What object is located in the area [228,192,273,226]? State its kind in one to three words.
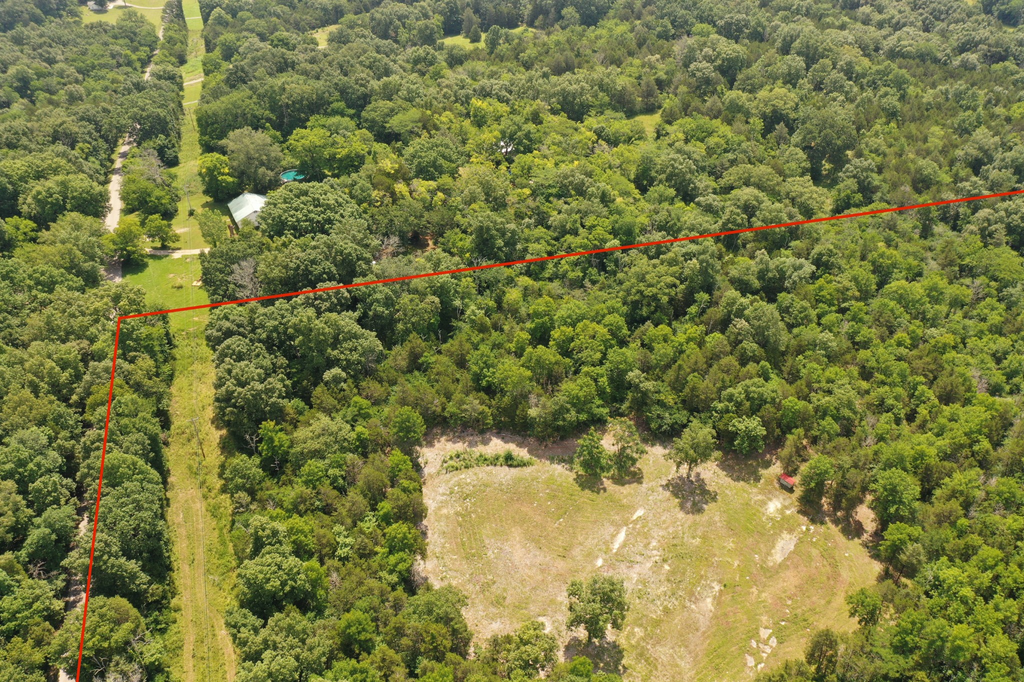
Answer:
house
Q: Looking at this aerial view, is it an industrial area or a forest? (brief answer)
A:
forest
